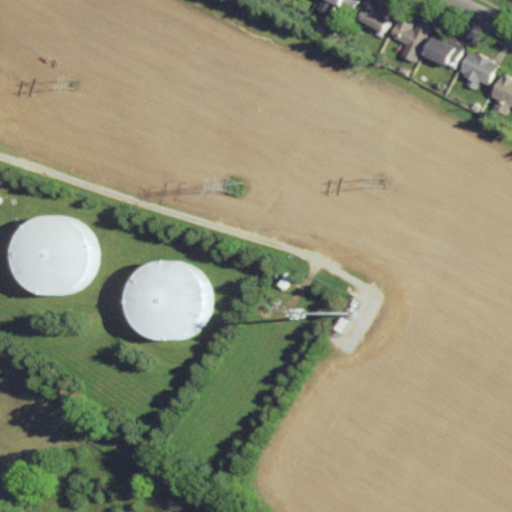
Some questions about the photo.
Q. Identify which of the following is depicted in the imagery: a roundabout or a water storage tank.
water storage tank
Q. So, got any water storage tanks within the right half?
No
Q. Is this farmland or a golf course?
farmland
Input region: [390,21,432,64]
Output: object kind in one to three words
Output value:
house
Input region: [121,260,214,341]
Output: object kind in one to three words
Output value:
water tank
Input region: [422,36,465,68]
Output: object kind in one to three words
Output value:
house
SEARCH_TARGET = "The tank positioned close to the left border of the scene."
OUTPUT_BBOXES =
[8,215,102,296]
